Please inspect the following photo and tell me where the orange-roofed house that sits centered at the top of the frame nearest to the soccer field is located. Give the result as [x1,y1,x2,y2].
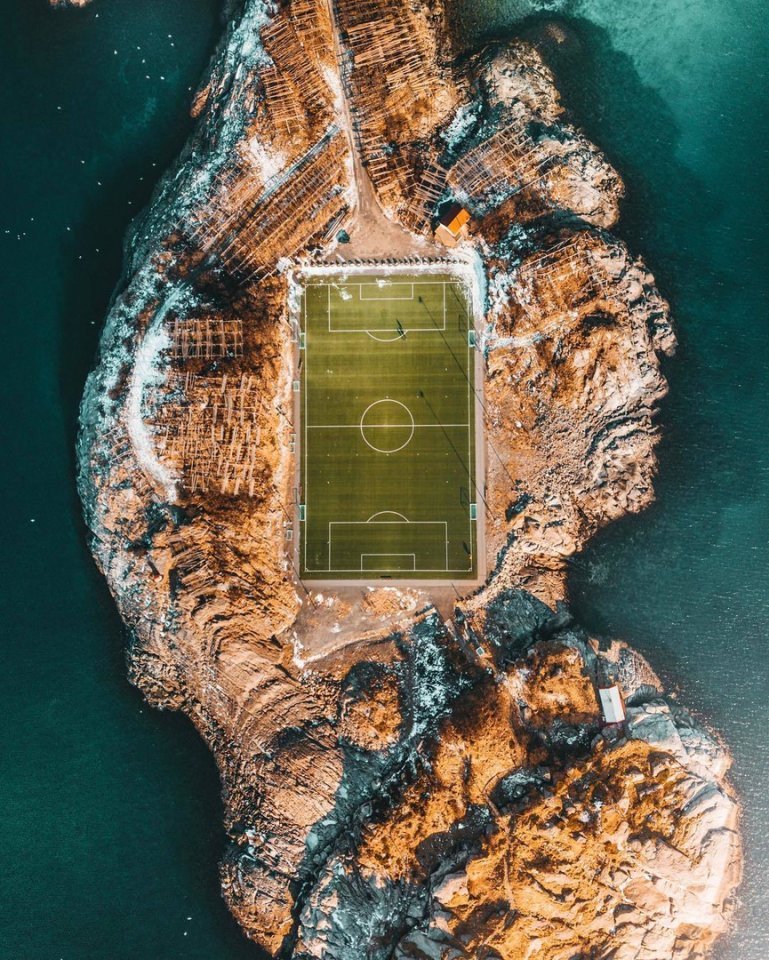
[440,207,470,246]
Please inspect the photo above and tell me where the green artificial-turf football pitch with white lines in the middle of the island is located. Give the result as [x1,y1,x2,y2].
[295,275,487,589]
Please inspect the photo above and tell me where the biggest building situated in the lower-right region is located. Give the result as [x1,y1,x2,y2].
[597,683,624,722]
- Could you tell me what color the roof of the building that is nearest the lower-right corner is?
white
